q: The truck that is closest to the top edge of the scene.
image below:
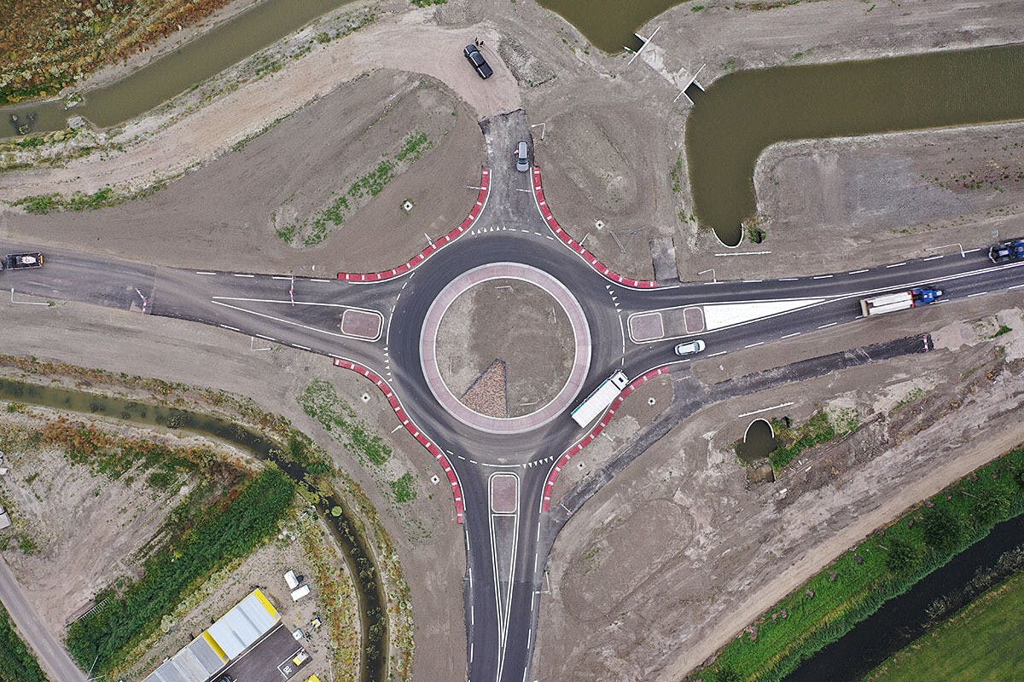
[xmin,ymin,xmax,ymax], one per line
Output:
[466,43,493,80]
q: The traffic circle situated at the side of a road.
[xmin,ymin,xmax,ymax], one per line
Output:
[328,167,690,523]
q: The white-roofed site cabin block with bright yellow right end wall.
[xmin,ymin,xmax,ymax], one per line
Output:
[207,588,282,660]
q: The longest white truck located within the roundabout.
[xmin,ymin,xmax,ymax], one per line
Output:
[569,368,630,429]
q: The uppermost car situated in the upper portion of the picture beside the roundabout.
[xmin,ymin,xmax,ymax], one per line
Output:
[516,142,529,171]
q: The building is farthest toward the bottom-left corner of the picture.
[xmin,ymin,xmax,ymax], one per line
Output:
[144,628,230,682]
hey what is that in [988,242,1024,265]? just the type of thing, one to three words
work vehicle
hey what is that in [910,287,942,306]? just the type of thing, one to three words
work vehicle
